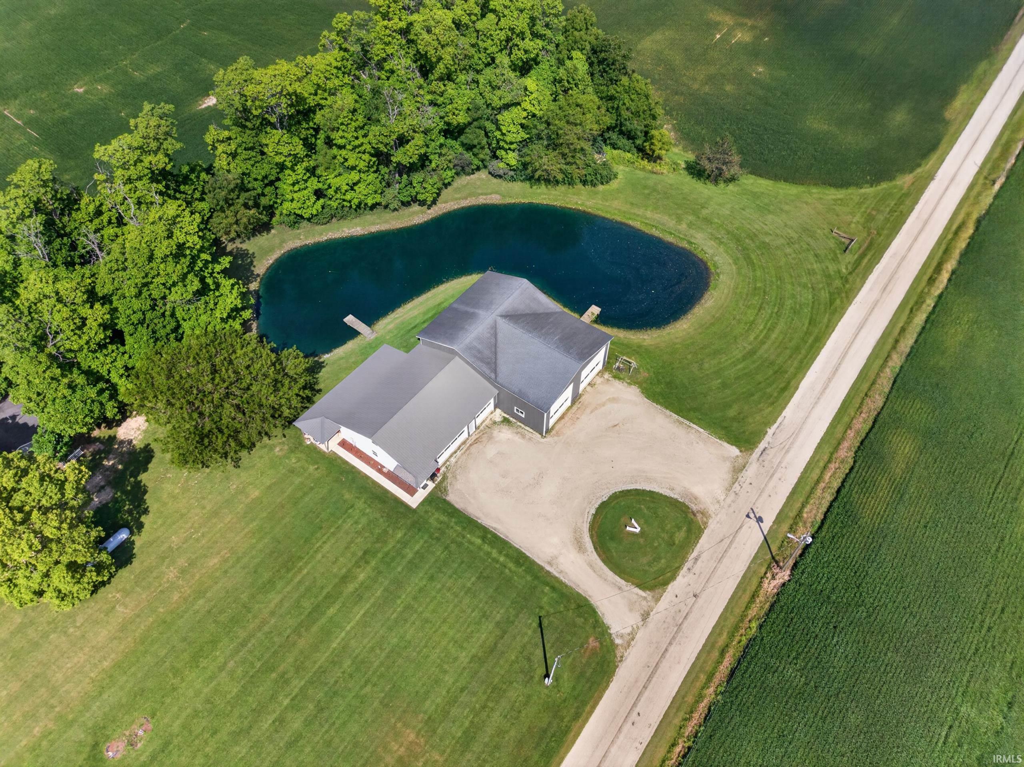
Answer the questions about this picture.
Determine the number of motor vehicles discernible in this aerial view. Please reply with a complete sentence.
There are no motor vehicles in this view.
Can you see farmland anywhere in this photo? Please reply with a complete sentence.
Yes, farmland can be seen from above here.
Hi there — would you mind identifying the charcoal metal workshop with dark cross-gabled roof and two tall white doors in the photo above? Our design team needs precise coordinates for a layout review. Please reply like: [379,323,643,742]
[415,271,615,436]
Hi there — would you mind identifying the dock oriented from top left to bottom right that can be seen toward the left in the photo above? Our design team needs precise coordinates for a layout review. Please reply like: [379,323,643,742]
[343,314,378,339]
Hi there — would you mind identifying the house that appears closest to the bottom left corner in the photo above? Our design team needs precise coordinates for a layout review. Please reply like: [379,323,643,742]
[293,343,498,497]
